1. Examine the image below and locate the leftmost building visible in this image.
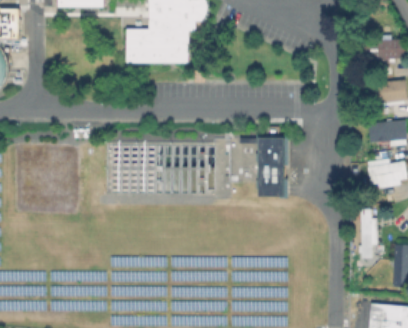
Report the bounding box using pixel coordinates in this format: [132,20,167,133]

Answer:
[0,8,18,38]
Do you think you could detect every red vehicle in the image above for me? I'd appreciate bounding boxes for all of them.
[234,10,243,22]
[394,215,406,226]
